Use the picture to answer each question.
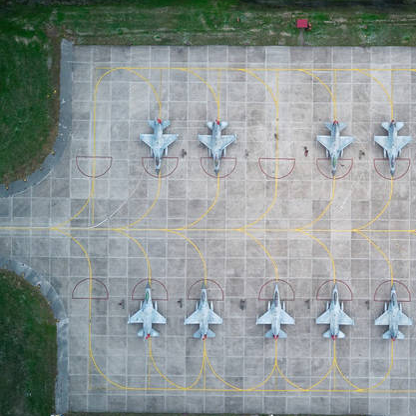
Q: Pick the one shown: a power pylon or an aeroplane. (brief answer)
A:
aeroplane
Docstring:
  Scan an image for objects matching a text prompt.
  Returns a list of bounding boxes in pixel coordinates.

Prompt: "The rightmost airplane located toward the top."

[374,119,412,178]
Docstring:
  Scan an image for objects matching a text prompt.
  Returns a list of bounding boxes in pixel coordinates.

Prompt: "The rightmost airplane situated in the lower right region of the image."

[374,285,413,341]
